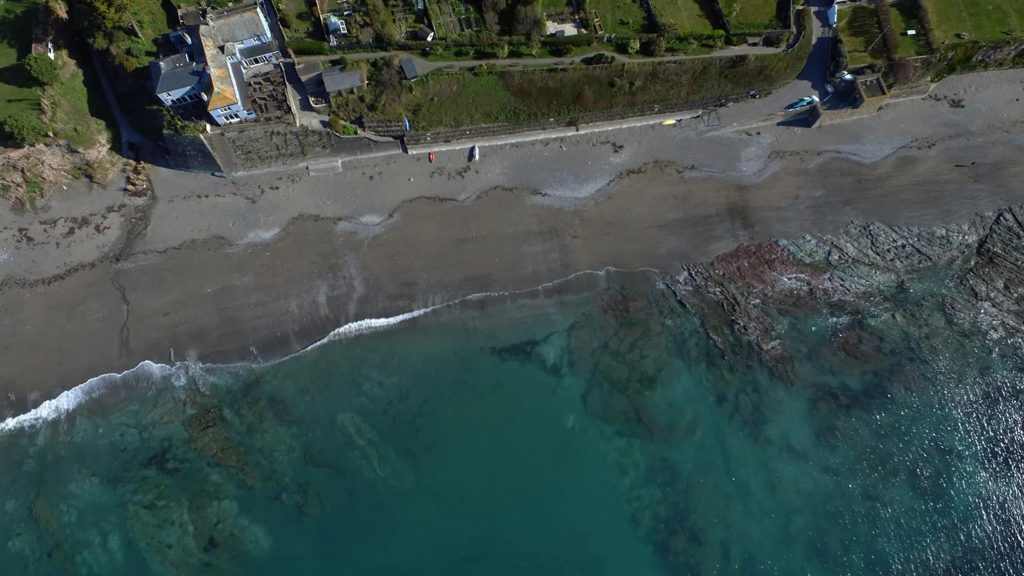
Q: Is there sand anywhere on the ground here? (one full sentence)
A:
Yes, the picture does contain sand.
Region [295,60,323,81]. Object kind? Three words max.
building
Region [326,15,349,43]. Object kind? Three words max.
house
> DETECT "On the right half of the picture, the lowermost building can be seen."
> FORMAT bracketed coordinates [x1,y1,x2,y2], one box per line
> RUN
[848,76,891,111]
